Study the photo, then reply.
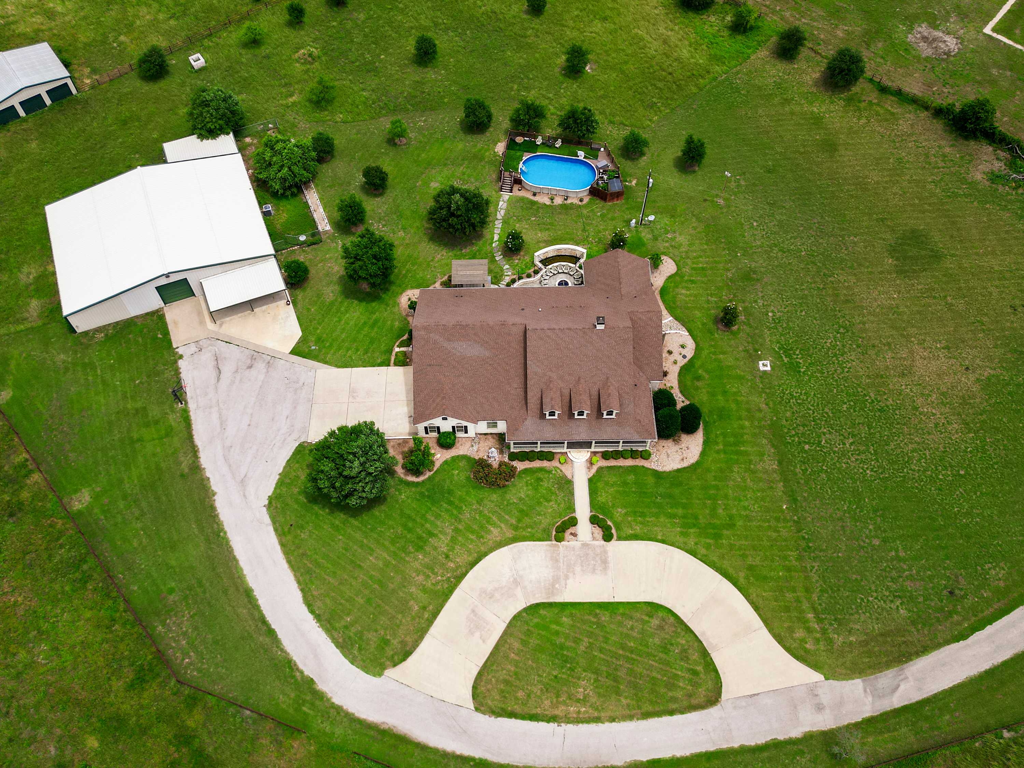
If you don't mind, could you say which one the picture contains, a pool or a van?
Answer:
pool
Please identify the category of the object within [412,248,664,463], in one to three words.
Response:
house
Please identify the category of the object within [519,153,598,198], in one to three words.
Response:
swimming pool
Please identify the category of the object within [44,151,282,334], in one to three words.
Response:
barn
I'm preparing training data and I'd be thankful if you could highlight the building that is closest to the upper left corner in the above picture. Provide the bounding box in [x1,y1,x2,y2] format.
[0,41,79,126]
